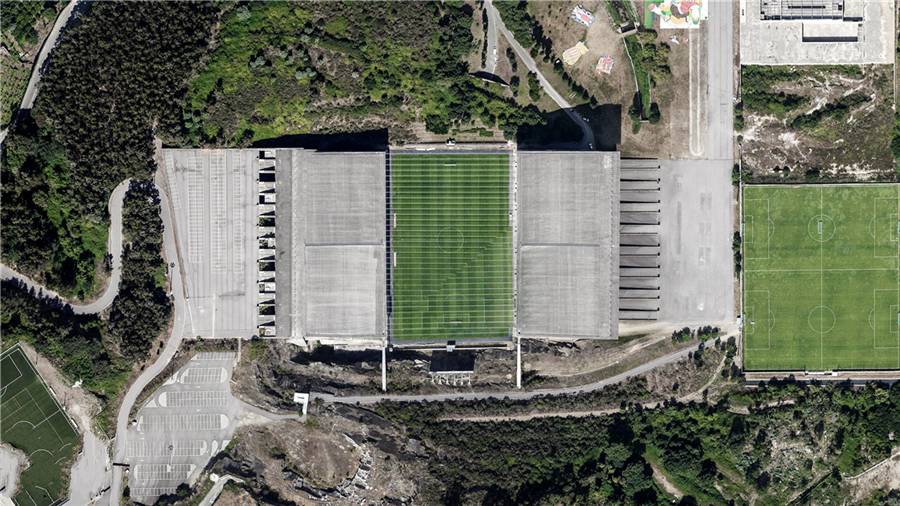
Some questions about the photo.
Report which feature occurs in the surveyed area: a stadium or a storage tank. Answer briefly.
stadium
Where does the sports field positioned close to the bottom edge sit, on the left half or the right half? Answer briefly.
left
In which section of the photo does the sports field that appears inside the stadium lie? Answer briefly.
center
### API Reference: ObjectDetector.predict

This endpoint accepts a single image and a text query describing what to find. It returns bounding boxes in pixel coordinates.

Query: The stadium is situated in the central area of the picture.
[254,147,661,391]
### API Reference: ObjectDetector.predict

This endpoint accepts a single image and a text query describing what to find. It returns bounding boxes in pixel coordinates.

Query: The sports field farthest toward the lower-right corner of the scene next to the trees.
[744,269,900,371]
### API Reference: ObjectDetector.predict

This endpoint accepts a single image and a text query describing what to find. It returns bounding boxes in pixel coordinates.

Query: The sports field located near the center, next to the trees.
[393,152,509,340]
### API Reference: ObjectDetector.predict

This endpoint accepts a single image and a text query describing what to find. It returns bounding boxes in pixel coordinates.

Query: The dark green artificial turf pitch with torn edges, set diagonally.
[0,345,80,506]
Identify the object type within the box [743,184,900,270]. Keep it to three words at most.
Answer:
sports field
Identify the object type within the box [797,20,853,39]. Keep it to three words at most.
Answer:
building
